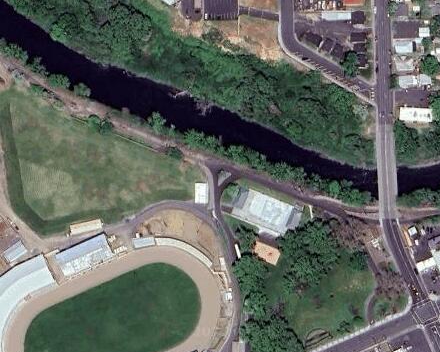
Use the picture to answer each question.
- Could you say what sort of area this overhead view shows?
sports ground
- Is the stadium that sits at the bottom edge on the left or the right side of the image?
left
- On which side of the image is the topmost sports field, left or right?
left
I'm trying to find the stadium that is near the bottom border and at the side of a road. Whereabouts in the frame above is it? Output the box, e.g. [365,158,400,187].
[0,237,220,352]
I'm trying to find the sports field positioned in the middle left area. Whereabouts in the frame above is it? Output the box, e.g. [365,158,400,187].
[0,83,192,238]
